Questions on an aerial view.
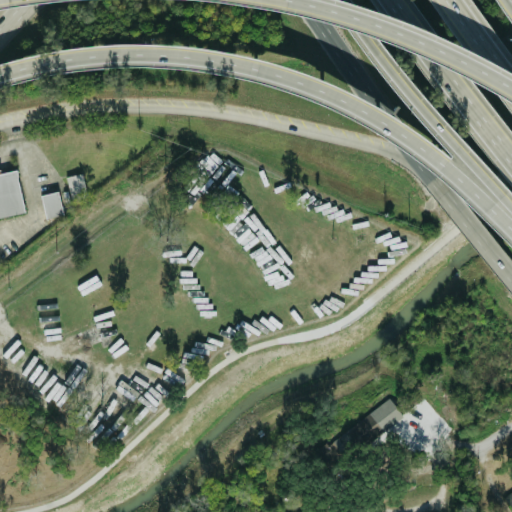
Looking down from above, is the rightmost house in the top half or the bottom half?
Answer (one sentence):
The bottom half of the photo is where the rightmost house is.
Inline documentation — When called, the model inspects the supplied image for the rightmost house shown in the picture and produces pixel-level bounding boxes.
[370,399,402,432]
